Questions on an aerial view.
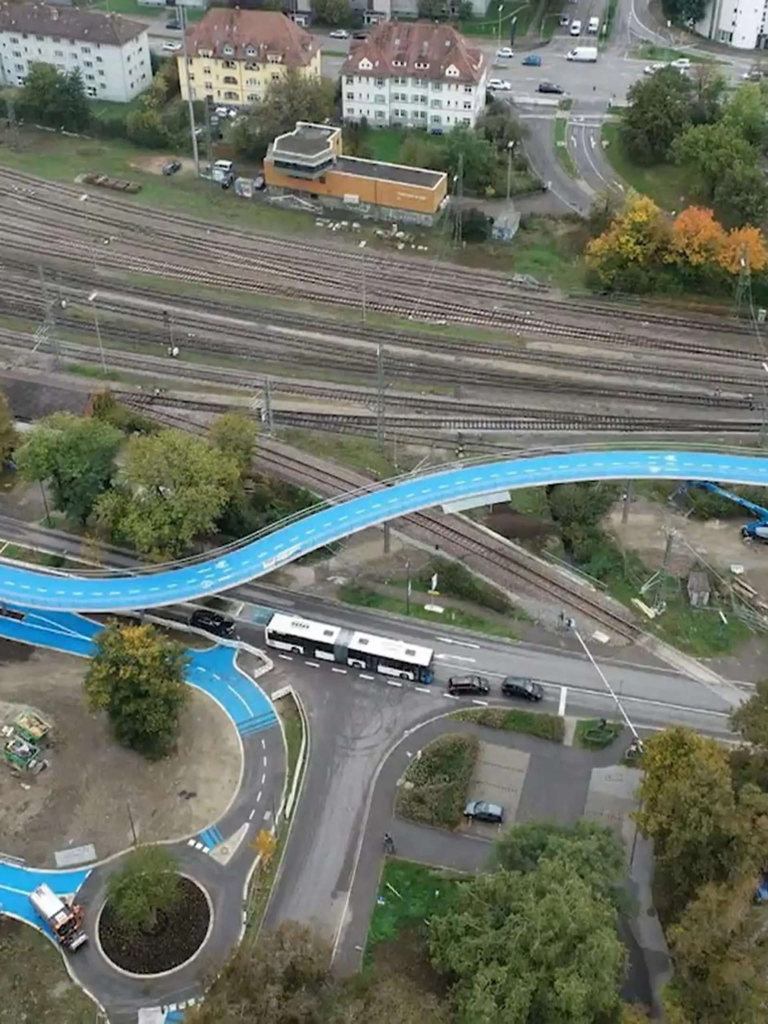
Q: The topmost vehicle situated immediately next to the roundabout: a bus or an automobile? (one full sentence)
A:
The topmost vehicle situated immediately next to the roundabout appears to be a bus.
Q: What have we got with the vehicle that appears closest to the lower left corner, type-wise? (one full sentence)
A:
What you see as the vehicle that appears closest to the lower left corner is a truck.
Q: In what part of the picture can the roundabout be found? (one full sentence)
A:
Look in the bottom left portion of the view to spot the roundabout.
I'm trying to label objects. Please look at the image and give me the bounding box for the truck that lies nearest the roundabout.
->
[27,879,87,955]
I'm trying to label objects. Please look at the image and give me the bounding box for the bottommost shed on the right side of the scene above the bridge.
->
[493,205,527,242]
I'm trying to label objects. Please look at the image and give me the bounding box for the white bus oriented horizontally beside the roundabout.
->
[267,615,442,685]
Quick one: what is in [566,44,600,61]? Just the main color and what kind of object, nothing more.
white vehicle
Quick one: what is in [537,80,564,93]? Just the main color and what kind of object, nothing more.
gray vehicle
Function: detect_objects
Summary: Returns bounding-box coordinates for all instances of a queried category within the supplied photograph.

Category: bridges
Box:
[0,440,768,627]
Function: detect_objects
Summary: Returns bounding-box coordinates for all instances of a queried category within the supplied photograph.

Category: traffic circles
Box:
[60,718,286,1024]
